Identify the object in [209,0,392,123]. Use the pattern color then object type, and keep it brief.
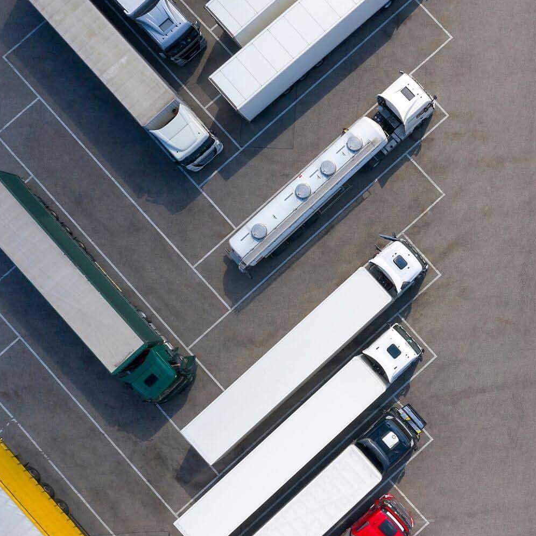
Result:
white truck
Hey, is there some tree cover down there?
No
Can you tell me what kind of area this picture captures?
parking lot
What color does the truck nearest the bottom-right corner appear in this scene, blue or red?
red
